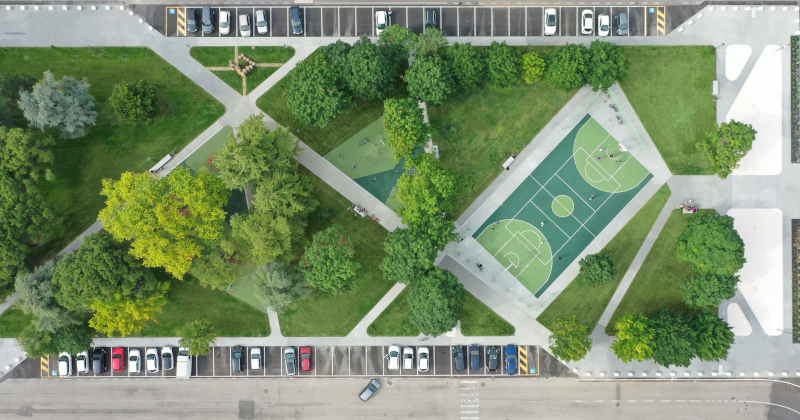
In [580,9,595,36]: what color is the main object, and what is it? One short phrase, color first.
white car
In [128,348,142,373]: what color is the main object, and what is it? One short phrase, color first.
white car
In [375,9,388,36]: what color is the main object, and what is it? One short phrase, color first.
white vehicle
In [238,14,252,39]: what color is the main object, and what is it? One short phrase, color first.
white vehicle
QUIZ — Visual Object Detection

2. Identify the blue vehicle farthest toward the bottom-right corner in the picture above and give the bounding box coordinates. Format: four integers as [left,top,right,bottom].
[504,344,518,375]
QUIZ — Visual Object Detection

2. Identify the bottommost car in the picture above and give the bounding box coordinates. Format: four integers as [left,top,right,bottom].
[358,377,381,403]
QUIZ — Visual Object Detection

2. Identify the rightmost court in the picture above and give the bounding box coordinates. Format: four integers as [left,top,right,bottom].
[473,115,653,298]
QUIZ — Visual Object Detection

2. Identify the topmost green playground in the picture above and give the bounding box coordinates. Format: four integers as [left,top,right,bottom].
[324,116,434,211]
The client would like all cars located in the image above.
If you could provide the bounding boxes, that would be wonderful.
[230,345,244,372]
[218,10,232,36]
[255,9,269,36]
[383,343,400,370]
[58,353,73,376]
[162,345,174,369]
[375,9,388,36]
[469,343,480,370]
[290,6,303,36]
[504,344,518,375]
[358,377,381,403]
[91,347,107,374]
[425,8,437,27]
[417,346,430,372]
[597,13,610,37]
[250,347,262,370]
[201,6,215,35]
[238,14,252,39]
[128,348,142,373]
[299,346,311,371]
[486,345,498,371]
[186,9,199,34]
[402,346,414,369]
[284,345,297,376]
[452,344,465,371]
[111,347,126,372]
[543,8,558,37]
[580,9,595,36]
[145,347,160,372]
[76,351,91,373]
